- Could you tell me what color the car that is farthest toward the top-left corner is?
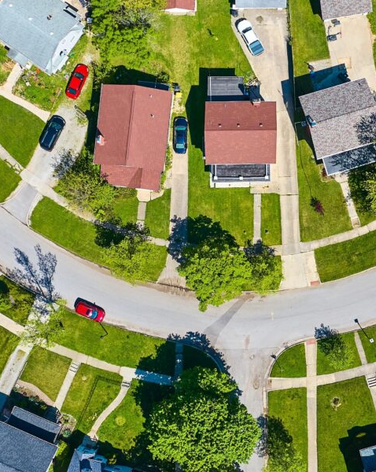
red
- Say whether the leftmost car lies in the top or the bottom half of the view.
top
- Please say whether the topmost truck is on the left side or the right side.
right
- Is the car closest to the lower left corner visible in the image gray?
No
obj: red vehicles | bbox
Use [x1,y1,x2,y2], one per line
[64,64,88,100]
[73,299,107,321]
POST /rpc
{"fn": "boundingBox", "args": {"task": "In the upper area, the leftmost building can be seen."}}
[0,0,86,72]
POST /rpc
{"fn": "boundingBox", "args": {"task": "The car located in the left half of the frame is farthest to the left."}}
[39,114,65,151]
